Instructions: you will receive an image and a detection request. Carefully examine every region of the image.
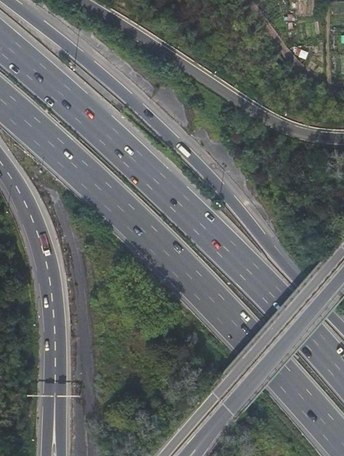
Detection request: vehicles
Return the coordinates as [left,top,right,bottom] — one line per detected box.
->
[62,150,74,160]
[124,146,134,156]
[176,143,193,160]
[44,296,48,308]
[114,150,124,159]
[168,198,178,207]
[44,96,54,106]
[240,312,250,322]
[62,100,72,110]
[307,410,318,421]
[272,302,280,310]
[142,108,154,118]
[302,346,312,358]
[44,340,50,350]
[204,212,215,222]
[9,64,20,74]
[34,72,44,82]
[211,240,222,250]
[335,346,344,356]
[39,232,52,257]
[240,323,250,334]
[172,242,183,252]
[86,110,96,119]
[130,176,140,186]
